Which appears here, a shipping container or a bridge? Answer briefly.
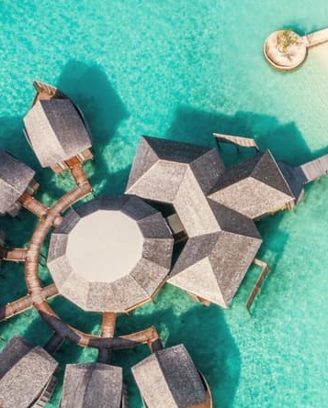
bridge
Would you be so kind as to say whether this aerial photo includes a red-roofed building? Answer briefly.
No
